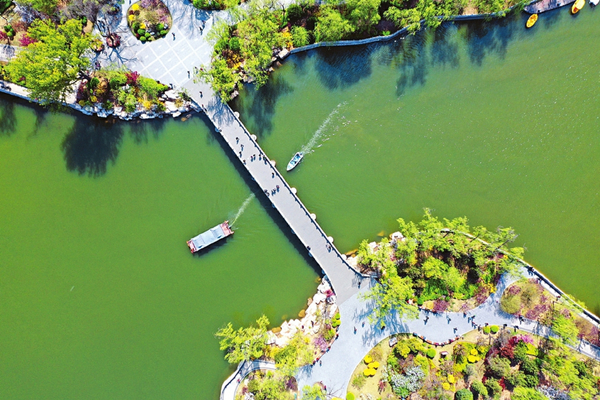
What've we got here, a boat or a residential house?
boat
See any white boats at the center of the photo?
Yes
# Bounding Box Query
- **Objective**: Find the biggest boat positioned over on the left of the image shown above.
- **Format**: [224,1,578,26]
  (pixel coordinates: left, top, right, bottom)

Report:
[188,221,234,253]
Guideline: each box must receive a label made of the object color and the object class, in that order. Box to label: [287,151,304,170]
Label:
white boat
